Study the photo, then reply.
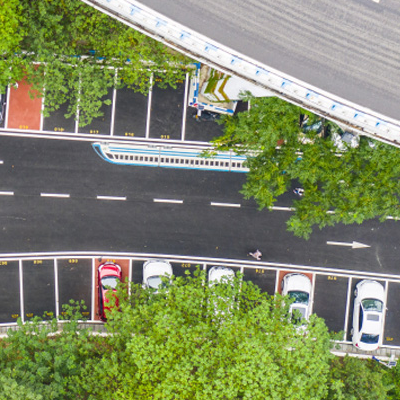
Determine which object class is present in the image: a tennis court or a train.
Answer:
train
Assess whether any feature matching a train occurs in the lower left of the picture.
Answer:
No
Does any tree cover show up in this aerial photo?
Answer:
Yes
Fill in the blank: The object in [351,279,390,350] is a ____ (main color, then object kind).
white car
